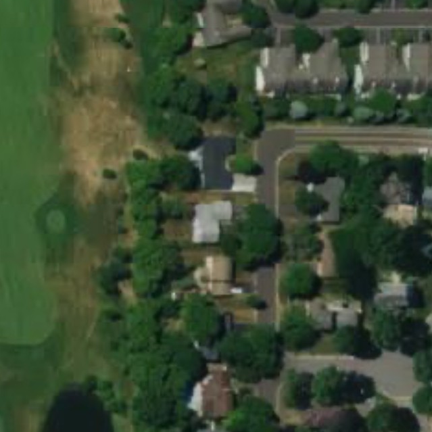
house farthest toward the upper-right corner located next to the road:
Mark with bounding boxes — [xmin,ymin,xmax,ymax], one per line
[355,38,432,99]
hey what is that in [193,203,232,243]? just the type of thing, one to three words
house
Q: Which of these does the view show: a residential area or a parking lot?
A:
residential area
